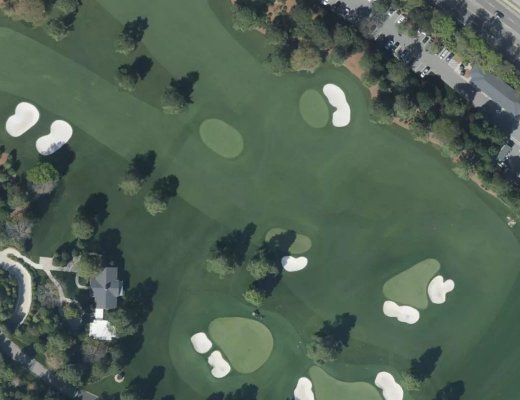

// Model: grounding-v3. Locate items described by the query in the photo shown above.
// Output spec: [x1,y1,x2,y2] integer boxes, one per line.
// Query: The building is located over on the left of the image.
[88,268,120,310]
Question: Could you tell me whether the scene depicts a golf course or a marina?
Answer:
golf course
